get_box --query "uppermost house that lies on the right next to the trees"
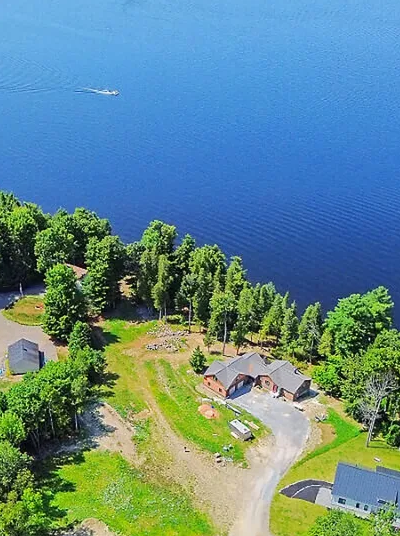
[201,352,311,403]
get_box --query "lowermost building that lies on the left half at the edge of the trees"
[10,337,42,373]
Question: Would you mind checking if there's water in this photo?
Yes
